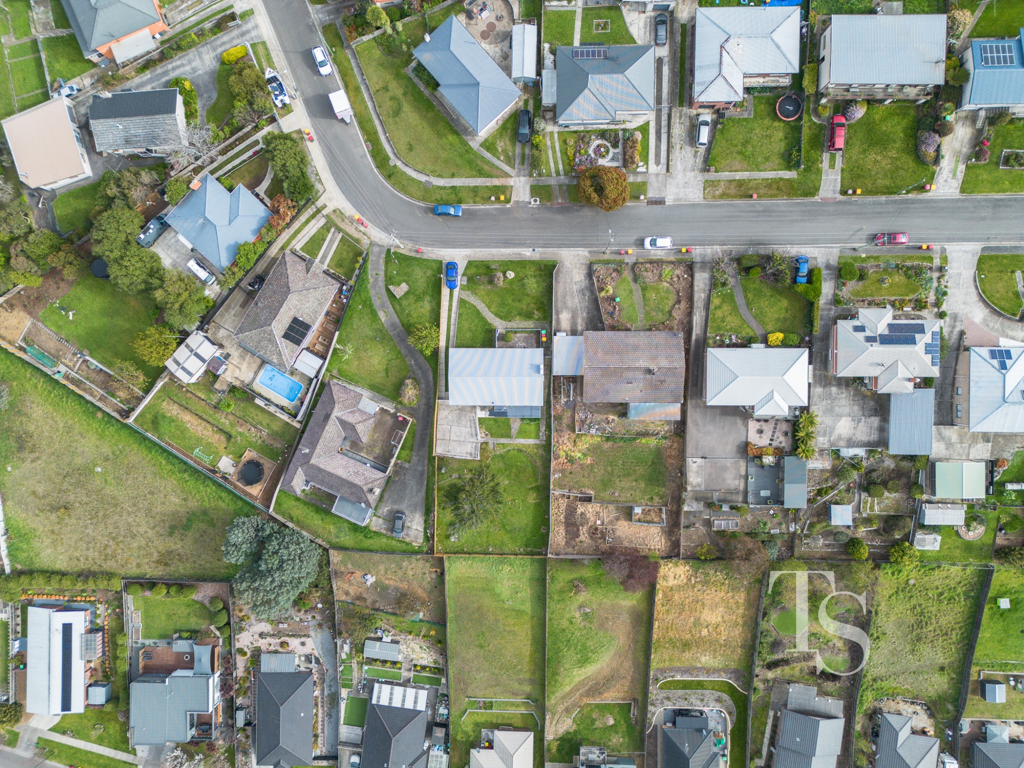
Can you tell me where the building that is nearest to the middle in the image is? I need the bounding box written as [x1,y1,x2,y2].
[448,347,546,418]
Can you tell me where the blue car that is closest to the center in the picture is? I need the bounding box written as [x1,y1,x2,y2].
[445,262,458,290]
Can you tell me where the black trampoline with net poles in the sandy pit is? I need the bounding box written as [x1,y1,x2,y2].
[236,461,263,486]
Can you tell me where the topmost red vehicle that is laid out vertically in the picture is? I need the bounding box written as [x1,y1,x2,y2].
[827,115,845,154]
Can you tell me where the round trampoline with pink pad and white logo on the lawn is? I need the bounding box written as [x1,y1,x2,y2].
[775,94,808,121]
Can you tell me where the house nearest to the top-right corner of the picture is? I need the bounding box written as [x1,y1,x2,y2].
[952,27,1024,114]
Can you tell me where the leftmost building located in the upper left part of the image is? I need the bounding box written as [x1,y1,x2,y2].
[1,96,95,191]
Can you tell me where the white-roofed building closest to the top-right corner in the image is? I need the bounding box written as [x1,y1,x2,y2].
[817,14,947,105]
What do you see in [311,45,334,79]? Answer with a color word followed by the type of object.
white car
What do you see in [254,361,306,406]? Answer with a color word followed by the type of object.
blue swimming pool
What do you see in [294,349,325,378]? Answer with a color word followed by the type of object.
white gazebo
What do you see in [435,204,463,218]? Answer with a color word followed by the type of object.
blue car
